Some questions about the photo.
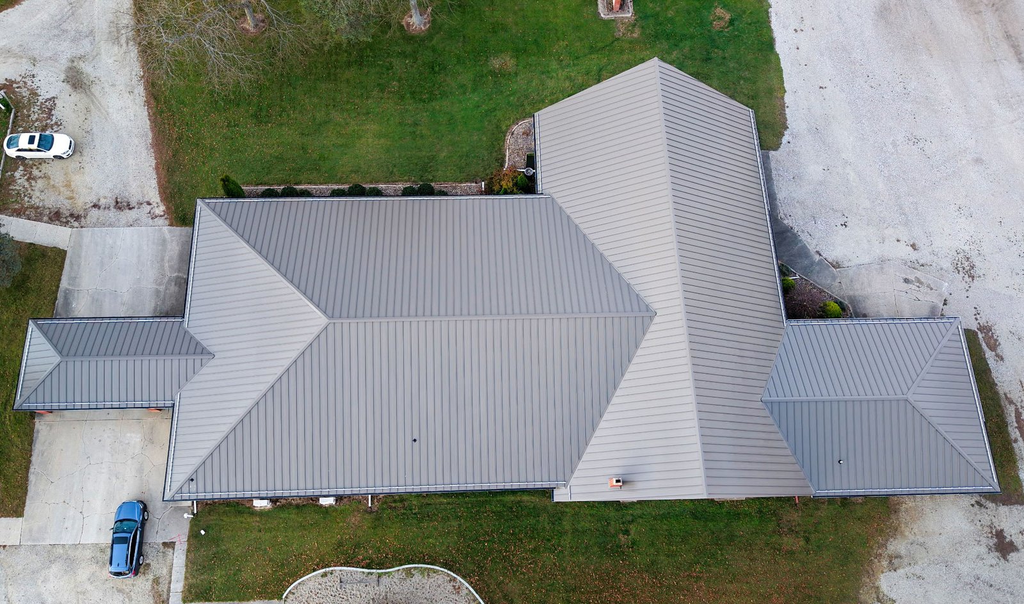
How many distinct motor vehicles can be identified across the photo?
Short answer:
2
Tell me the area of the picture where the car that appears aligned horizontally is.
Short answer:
top left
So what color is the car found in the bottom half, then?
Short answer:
blue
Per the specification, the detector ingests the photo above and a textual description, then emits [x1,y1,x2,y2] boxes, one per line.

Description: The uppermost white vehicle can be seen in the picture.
[3,128,77,159]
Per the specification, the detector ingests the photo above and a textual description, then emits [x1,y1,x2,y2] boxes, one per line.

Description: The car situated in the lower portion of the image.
[105,500,148,578]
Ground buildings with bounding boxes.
[11,57,1002,504]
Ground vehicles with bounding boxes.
[3,128,77,159]
[105,500,148,578]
